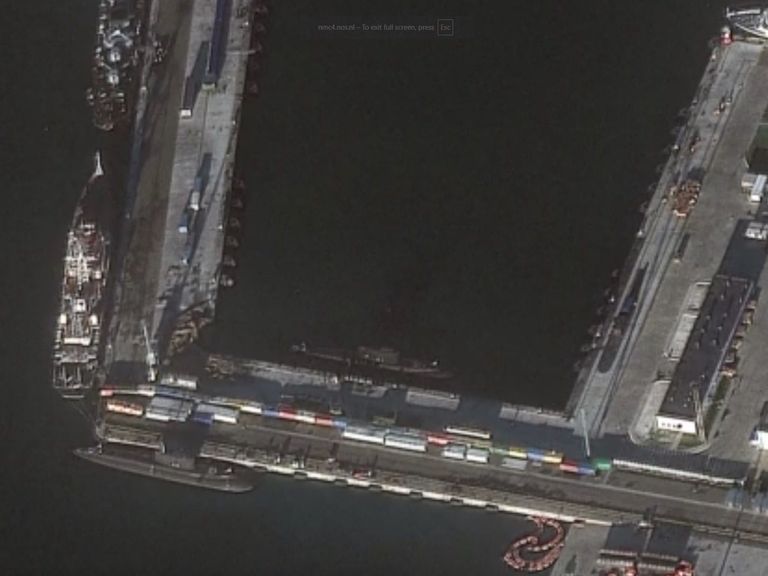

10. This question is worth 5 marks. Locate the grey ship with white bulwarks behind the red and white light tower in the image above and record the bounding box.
[727,8,768,42]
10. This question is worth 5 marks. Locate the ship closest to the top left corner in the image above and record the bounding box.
[92,0,136,134]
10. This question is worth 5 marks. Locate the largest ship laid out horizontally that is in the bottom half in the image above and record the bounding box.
[75,445,254,496]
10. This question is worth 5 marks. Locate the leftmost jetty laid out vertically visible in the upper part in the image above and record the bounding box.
[105,0,252,385]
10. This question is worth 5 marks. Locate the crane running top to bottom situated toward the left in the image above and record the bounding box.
[138,320,160,386]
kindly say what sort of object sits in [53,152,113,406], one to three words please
ship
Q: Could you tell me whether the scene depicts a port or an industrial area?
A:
port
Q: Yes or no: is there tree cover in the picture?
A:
No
